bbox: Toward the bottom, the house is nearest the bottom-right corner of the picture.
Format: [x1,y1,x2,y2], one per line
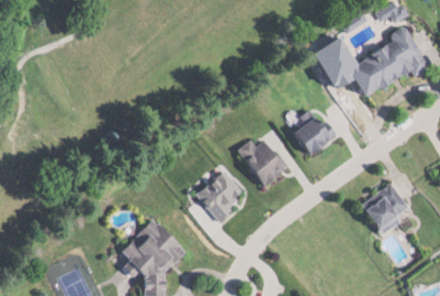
[362,181,409,234]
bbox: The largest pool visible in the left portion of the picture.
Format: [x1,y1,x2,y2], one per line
[110,209,140,236]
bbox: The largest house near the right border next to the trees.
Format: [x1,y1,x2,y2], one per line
[316,26,429,96]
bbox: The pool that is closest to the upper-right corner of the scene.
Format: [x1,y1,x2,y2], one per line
[350,28,376,52]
